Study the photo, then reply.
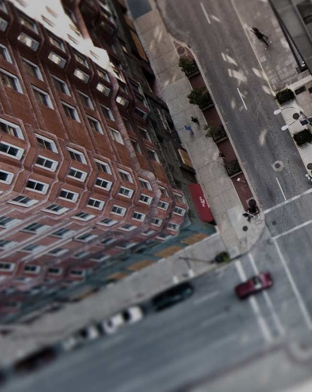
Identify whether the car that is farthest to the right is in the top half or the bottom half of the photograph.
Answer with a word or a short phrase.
bottom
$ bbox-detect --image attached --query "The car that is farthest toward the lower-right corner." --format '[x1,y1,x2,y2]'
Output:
[234,271,275,301]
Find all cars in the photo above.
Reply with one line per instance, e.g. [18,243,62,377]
[100,305,143,336]
[149,281,195,312]
[234,271,275,301]
[60,325,99,354]
[13,345,55,375]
